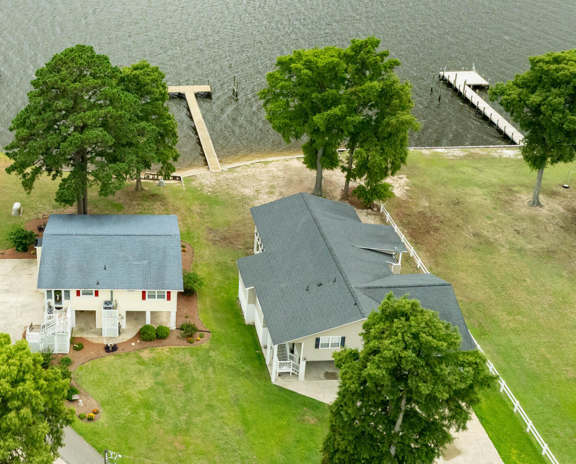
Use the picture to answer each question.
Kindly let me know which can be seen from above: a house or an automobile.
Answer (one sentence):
Looking from above, you can make out a house.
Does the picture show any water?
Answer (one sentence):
Yes, some water is visible.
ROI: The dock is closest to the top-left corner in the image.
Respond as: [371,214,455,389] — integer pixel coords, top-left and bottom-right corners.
[168,79,220,171]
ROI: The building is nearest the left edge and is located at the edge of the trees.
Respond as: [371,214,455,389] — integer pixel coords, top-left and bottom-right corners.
[36,215,184,328]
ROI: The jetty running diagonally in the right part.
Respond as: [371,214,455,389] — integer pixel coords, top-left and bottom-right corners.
[430,62,524,145]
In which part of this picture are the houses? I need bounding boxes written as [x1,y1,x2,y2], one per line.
[236,192,477,390]
[36,215,184,328]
